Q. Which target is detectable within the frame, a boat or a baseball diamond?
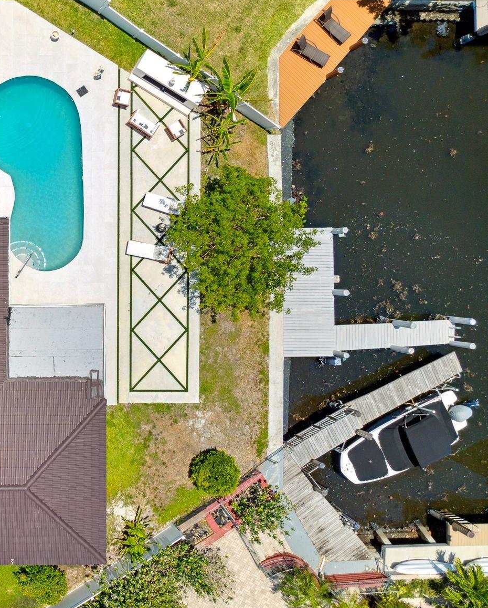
boat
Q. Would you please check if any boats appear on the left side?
No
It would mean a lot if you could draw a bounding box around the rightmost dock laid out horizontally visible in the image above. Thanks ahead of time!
[443,523,488,543]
